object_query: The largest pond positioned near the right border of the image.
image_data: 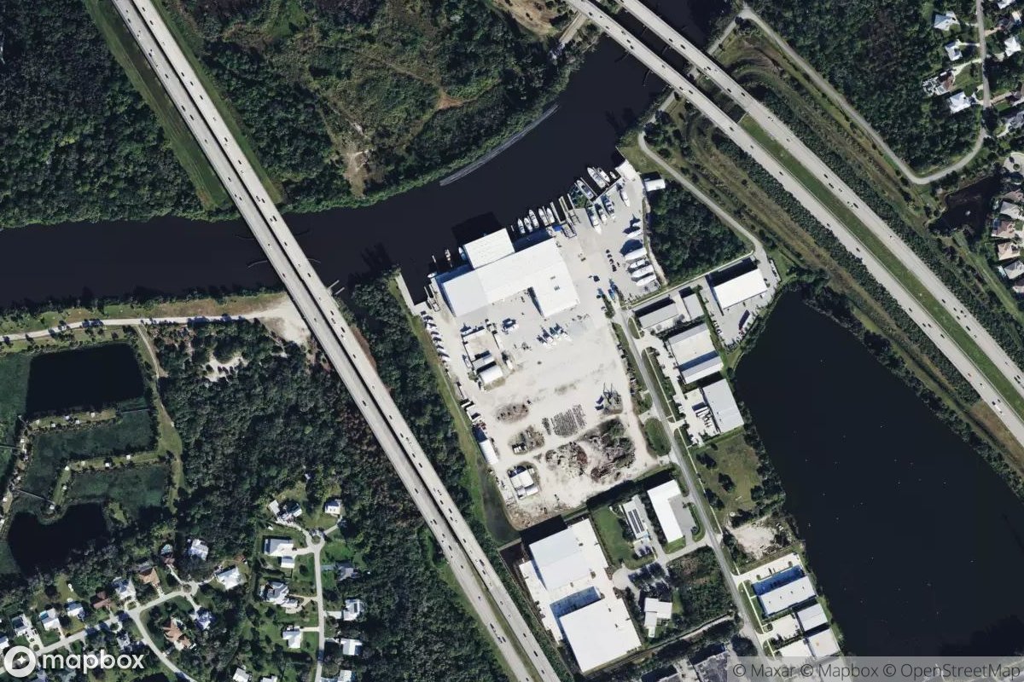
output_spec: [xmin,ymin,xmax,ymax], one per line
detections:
[929,167,1014,245]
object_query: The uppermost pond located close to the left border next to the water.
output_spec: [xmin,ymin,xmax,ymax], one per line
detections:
[27,342,144,415]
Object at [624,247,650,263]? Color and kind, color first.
white boat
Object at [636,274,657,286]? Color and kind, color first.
white boat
